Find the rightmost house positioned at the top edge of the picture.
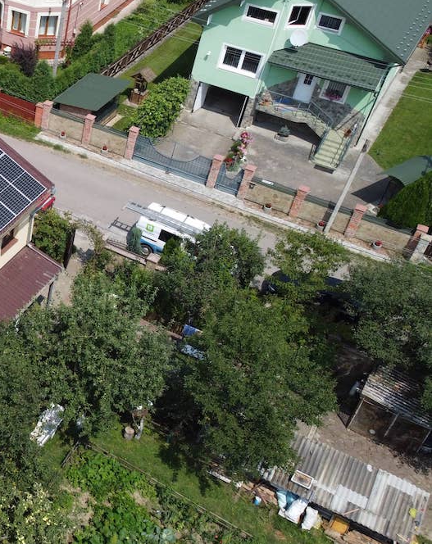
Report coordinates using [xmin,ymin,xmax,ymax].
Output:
[182,0,432,173]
